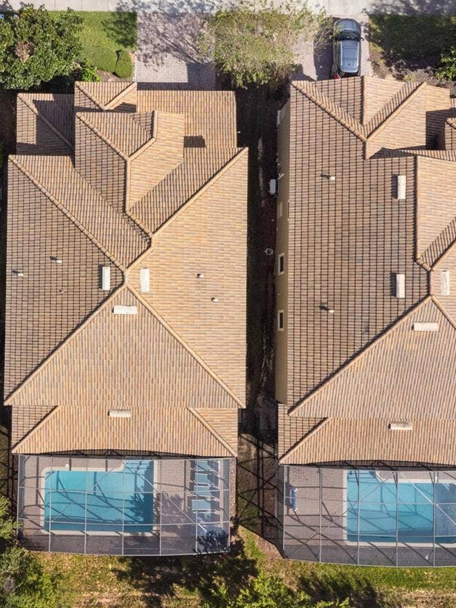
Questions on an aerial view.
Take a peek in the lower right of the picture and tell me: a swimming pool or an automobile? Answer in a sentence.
It is a swimming pool that can be seen in the lower right of the picture.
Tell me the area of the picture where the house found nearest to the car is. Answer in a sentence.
The house found nearest to the car sits in the right section of the image.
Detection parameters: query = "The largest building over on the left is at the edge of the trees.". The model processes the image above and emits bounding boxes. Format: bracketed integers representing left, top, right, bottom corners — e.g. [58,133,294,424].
[2,80,251,458]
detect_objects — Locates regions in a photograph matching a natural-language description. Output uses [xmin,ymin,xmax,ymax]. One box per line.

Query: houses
[274,76,456,468]
[2,80,251,458]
